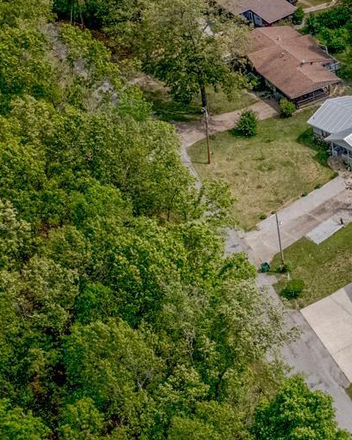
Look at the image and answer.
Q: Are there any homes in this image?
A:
Yes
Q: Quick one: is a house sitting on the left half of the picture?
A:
No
